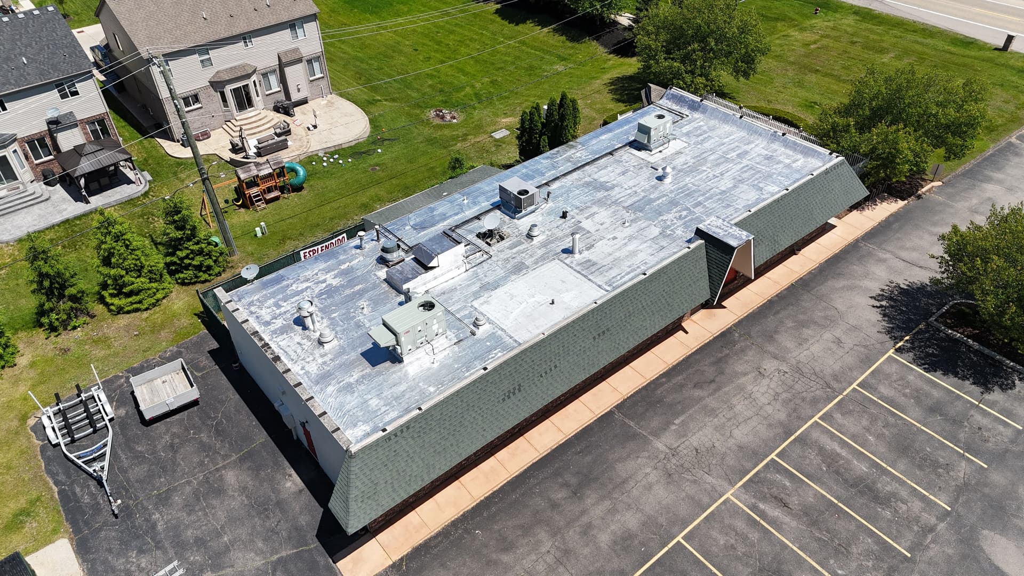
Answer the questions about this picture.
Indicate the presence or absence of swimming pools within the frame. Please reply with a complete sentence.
No, I can see no swimming pool in this picture.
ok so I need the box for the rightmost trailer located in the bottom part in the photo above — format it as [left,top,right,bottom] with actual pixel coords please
[122,357,203,425]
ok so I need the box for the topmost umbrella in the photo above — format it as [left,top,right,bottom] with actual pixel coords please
[239,128,256,160]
